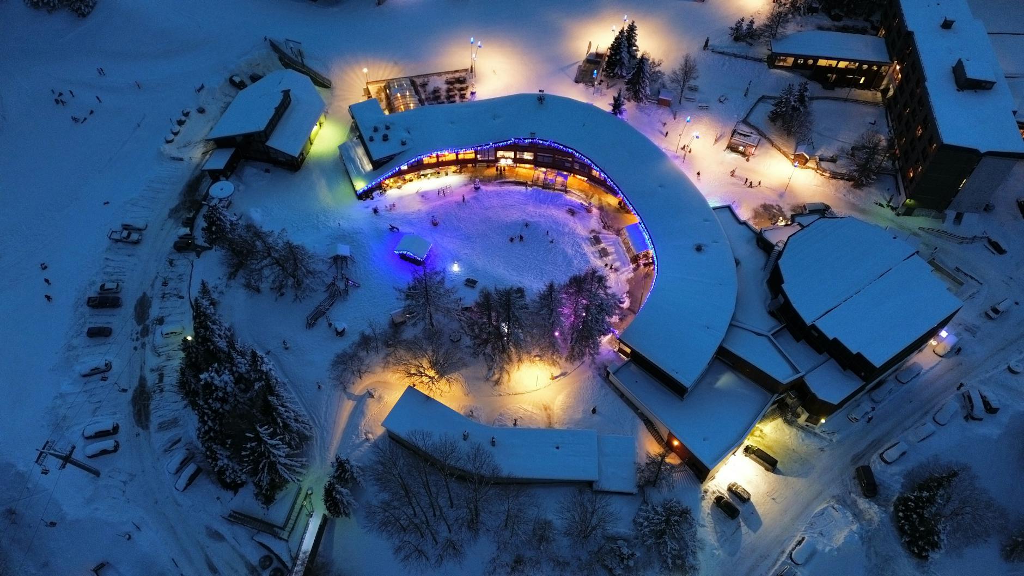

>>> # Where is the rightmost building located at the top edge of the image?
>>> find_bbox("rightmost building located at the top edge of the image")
[869,0,1024,210]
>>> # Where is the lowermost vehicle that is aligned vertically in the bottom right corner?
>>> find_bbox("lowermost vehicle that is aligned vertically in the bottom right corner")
[857,458,881,499]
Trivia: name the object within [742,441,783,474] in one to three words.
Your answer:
van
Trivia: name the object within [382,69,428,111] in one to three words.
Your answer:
greenhouse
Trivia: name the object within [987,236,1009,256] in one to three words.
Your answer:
car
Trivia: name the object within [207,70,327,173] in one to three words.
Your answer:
house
